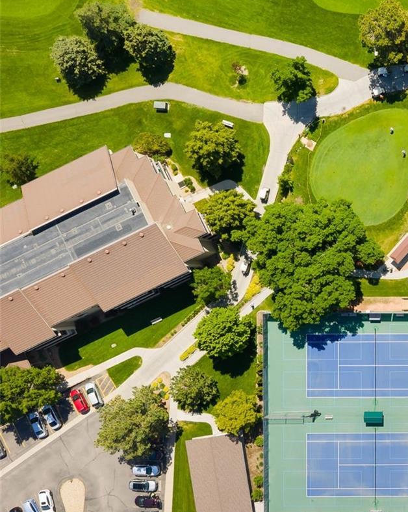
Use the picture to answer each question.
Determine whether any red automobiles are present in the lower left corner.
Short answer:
Yes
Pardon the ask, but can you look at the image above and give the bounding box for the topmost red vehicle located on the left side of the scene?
[72,388,91,415]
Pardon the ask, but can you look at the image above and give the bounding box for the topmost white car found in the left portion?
[86,381,106,405]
